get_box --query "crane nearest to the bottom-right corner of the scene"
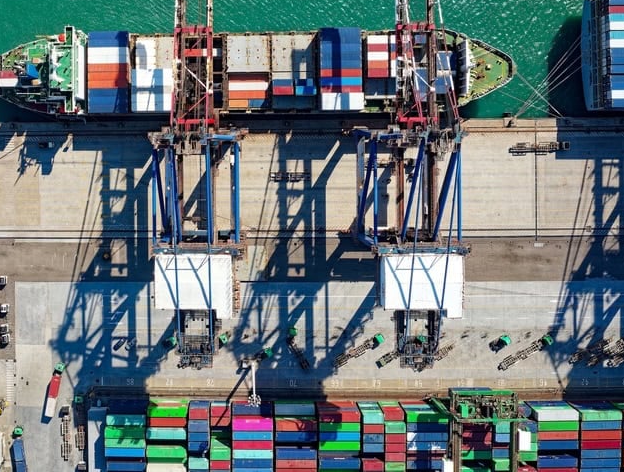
[431,389,531,472]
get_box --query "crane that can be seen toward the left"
[142,0,256,368]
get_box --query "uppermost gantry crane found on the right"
[334,0,468,368]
